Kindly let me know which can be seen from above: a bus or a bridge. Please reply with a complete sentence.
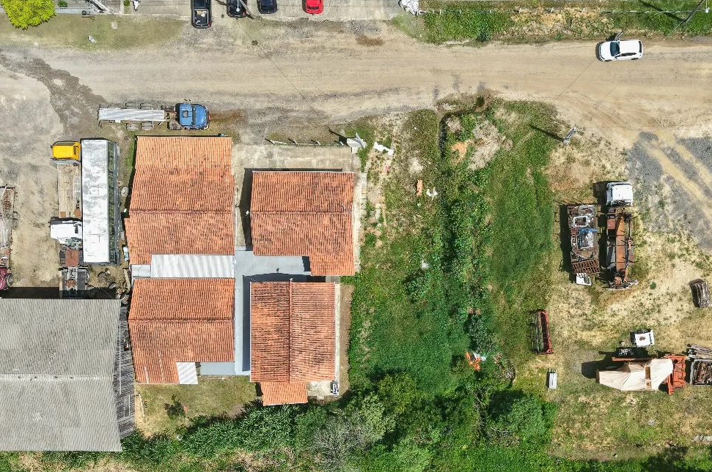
This aerial view contains a bus.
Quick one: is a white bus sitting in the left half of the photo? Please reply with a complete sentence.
Yes, the scene does show a white bus in the left half of the photo.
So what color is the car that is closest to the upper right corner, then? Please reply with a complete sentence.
From above, the car that is closest to the upper right corner appears white.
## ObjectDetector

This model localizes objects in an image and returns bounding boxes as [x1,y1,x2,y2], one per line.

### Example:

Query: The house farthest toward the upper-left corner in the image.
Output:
[126,136,243,266]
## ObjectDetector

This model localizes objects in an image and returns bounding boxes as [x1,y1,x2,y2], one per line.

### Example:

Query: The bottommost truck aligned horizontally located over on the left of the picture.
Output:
[95,98,209,129]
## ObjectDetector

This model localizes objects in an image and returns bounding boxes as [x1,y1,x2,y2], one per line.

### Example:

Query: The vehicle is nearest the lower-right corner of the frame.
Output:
[598,351,686,394]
